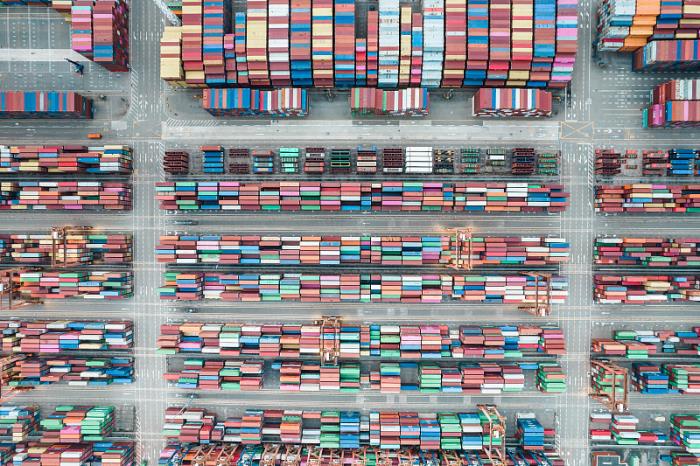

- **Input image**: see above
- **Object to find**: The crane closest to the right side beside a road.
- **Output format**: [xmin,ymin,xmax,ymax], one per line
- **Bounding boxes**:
[587,355,623,409]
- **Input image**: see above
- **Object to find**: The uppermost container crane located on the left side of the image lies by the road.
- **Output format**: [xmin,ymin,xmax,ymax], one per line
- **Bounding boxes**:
[51,223,88,270]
